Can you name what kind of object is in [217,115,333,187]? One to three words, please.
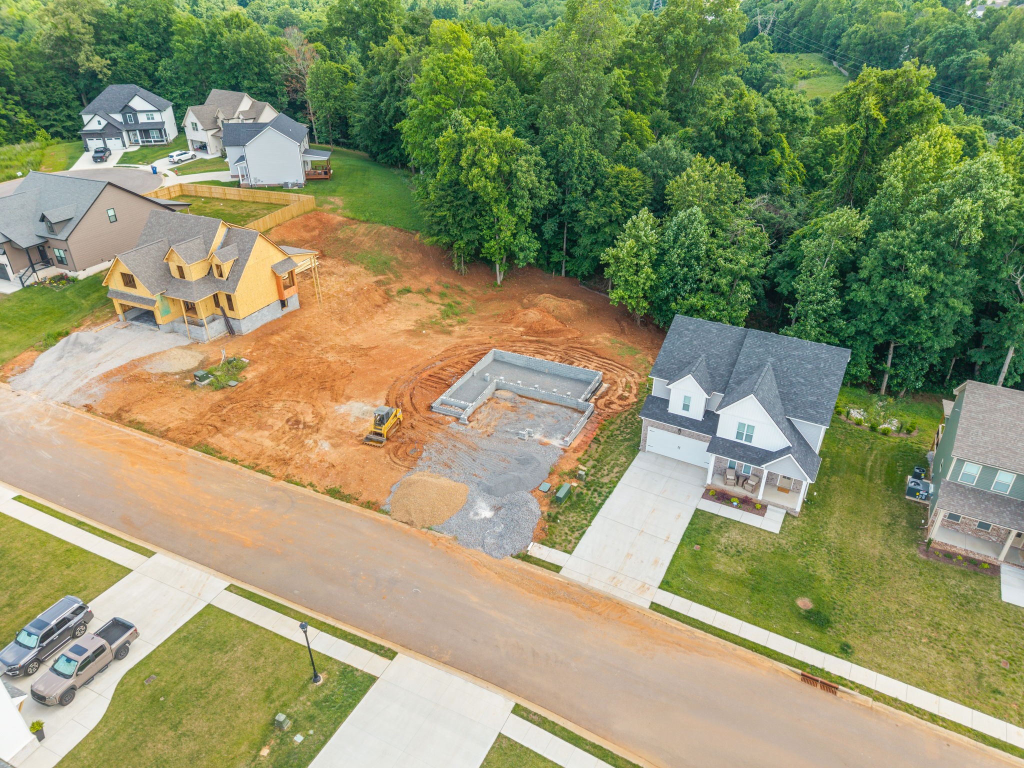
house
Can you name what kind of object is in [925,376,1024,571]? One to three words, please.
building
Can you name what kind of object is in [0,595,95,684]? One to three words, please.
car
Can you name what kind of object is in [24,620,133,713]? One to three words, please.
truck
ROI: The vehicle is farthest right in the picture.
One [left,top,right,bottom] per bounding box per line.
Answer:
[363,407,402,445]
